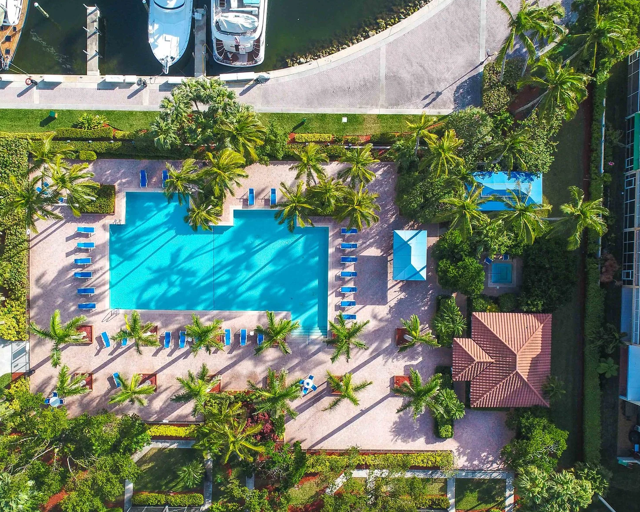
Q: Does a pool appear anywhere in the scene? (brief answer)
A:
Yes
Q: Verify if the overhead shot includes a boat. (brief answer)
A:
Yes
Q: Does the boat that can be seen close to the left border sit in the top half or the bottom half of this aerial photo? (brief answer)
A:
top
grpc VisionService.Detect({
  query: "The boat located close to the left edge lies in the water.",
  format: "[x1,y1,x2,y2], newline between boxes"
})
[0,0,31,71]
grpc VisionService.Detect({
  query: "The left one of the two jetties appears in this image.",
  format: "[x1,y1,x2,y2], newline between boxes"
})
[87,6,102,75]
